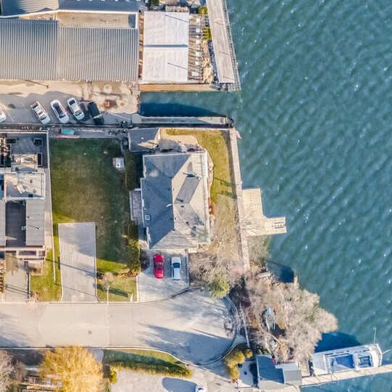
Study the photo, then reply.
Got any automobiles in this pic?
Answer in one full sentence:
Yes, an automobile can be made out from above.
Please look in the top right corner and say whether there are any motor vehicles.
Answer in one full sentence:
No, the scene shows no motor vehicle in the top right corner.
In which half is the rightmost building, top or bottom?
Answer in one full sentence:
The bottom half of the photo is where the rightmost building is.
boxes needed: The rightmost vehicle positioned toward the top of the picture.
[86,101,105,125]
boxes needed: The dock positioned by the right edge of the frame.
[301,364,392,385]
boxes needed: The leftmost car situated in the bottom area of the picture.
[153,255,166,278]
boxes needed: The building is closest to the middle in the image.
[140,151,212,255]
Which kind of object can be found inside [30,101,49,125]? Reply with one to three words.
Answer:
car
